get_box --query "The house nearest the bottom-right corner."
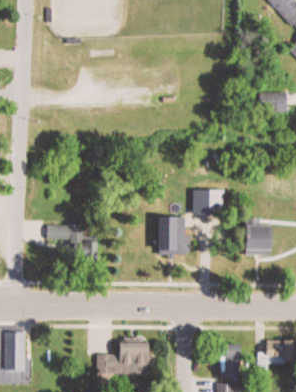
[258,340,294,372]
